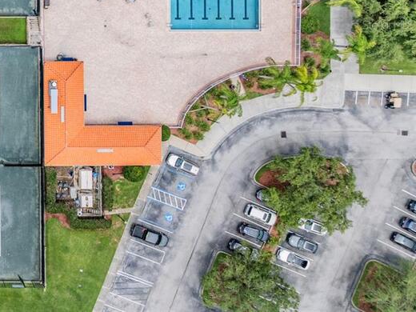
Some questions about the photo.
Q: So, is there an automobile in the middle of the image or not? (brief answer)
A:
Yes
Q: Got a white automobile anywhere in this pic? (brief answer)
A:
Yes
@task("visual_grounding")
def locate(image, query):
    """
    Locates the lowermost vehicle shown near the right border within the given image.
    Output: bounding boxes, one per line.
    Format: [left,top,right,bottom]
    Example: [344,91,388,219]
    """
[385,231,416,254]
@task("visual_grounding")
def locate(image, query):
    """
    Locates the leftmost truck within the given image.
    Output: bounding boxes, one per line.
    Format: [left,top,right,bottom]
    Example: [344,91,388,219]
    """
[129,224,168,247]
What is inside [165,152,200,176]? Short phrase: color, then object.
white car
